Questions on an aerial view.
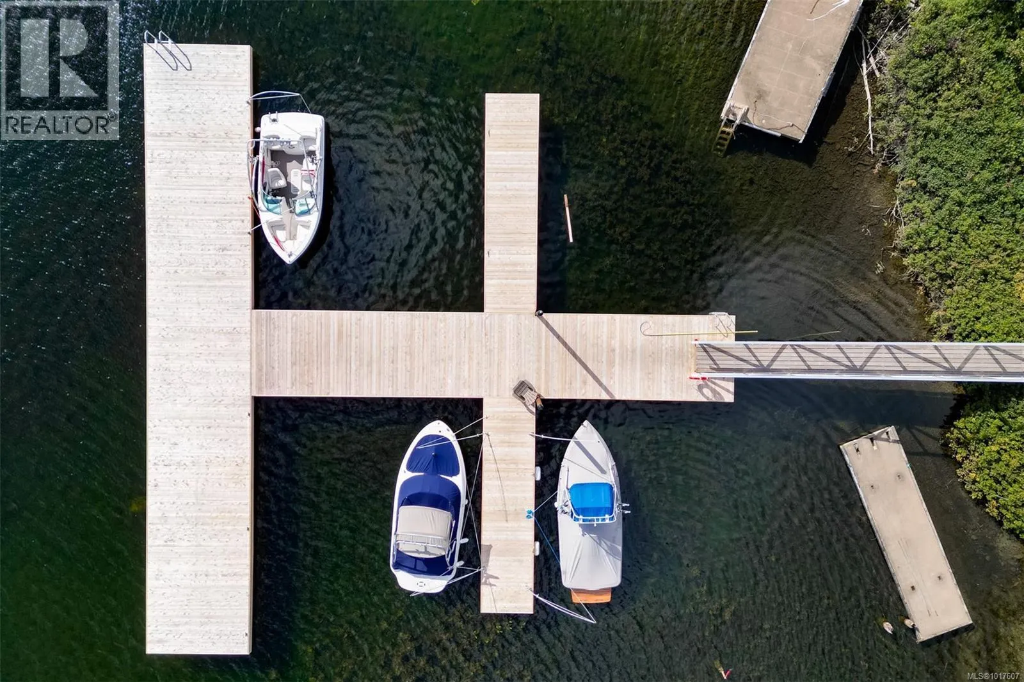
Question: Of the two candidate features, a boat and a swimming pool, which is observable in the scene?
boat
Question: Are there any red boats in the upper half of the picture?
No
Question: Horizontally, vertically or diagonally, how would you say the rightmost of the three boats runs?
vertically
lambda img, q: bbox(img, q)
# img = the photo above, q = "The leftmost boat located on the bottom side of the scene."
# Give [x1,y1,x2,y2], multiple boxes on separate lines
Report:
[390,419,467,593]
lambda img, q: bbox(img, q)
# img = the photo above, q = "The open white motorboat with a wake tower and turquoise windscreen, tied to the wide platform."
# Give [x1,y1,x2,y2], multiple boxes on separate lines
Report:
[247,111,327,264]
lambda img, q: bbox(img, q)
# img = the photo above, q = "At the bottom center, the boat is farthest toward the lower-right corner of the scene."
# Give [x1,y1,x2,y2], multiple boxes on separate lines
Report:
[556,418,630,604]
